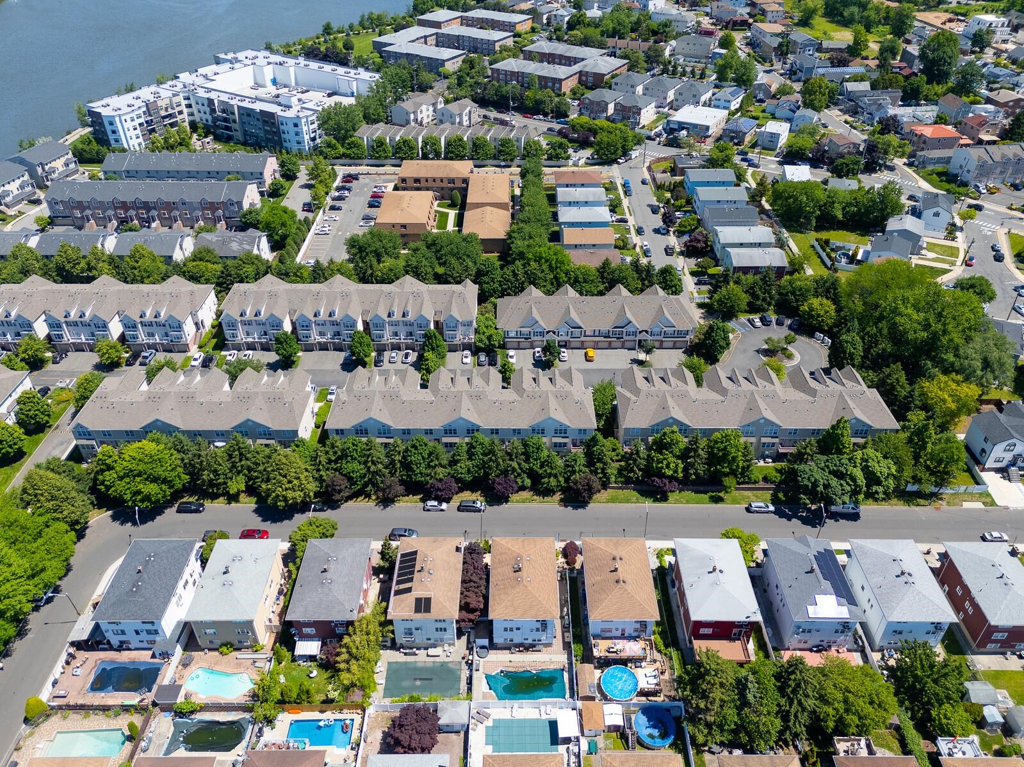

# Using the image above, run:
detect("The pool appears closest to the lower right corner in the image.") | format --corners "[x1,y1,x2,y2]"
[630,705,681,753]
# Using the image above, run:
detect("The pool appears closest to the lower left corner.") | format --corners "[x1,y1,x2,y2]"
[37,726,129,762]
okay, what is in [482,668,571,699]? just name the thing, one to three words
swimming pool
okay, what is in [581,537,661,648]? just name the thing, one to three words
house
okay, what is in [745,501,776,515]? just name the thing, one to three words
car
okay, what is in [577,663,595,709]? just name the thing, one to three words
shed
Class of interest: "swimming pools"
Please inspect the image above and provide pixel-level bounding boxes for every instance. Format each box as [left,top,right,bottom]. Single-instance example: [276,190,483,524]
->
[162,715,254,757]
[37,726,129,762]
[182,664,255,702]
[482,668,571,699]
[283,717,357,750]
[630,705,681,753]
[483,715,563,757]
[598,663,641,707]
[381,660,463,700]
[83,659,167,696]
